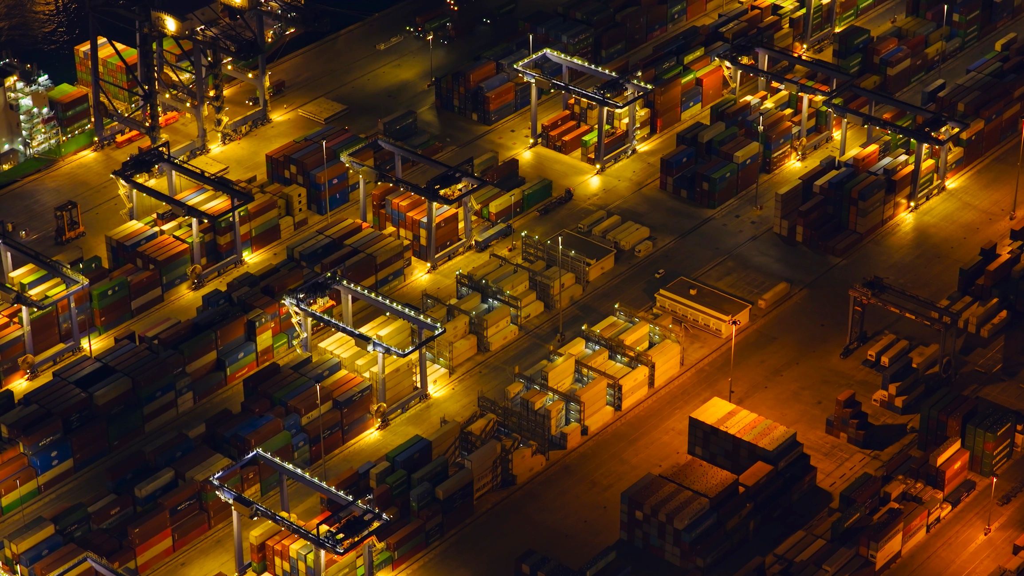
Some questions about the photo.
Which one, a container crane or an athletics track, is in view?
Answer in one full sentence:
Visible in the photo is a container crane.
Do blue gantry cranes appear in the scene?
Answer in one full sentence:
No, there isn't any blue gantry crane down there.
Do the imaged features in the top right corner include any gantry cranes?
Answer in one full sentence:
Yes, a gantry crane can be seen in the top right corner.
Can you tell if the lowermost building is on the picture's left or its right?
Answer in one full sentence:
The lowermost building is on the right side of the image.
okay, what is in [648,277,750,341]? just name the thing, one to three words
building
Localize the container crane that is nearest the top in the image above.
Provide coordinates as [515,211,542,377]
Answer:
[804,0,843,50]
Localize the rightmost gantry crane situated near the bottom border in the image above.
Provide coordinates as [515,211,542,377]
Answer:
[196,445,393,576]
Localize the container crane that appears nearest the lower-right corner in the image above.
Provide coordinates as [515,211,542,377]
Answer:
[836,254,967,396]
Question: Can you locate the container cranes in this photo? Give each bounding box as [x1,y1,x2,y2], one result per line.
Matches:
[813,80,976,210]
[506,47,658,172]
[273,268,450,426]
[51,0,232,177]
[331,136,491,272]
[196,445,393,576]
[0,235,94,376]
[100,147,256,287]
[836,254,967,396]
[147,0,294,146]
[707,34,862,159]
